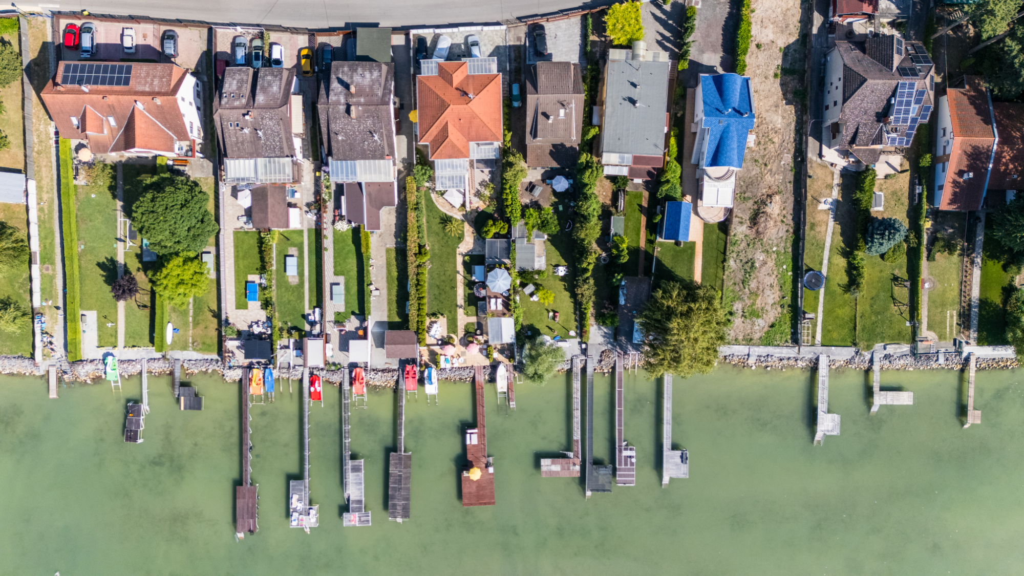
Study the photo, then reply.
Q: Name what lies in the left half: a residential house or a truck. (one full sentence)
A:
The one visible in the left half is a residential house.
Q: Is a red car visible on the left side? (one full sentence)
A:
Yes, a red car shows up on the left side.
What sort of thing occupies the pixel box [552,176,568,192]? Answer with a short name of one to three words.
umbrella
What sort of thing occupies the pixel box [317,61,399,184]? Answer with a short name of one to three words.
house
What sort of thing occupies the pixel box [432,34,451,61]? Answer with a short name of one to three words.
car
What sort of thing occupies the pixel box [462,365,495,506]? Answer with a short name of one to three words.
pier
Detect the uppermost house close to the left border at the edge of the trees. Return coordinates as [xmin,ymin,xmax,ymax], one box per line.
[40,61,202,159]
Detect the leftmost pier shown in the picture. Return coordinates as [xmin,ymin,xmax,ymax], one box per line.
[48,365,60,398]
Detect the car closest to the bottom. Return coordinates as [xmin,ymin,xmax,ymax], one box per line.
[509,83,522,107]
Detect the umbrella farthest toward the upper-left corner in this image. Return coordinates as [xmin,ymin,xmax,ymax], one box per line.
[78,148,95,162]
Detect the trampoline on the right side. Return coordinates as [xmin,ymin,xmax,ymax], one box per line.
[808,270,824,290]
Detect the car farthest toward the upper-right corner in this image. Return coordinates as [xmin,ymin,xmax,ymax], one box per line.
[532,25,547,57]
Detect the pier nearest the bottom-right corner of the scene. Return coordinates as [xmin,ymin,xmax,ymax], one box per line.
[961,353,981,429]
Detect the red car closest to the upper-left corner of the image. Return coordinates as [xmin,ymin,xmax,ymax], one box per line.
[64,24,80,51]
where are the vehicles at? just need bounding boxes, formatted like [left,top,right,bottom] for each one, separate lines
[80,24,97,55]
[64,24,80,51]
[320,43,334,63]
[432,34,451,61]
[250,39,265,68]
[532,25,547,57]
[235,36,249,66]
[509,83,522,107]
[163,30,178,59]
[469,35,482,58]
[299,48,314,77]
[271,43,284,68]
[415,36,429,65]
[122,28,137,54]
[344,36,356,62]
